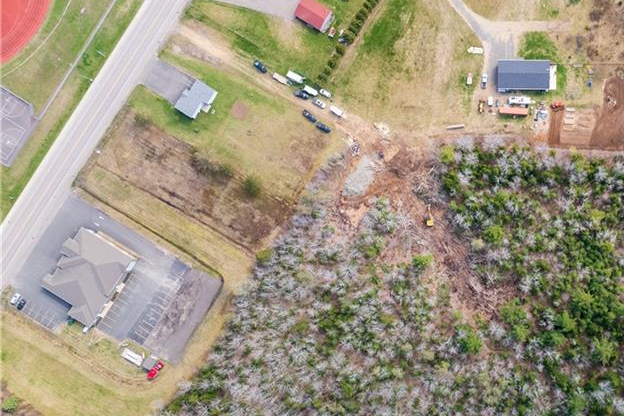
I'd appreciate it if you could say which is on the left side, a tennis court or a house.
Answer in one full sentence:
What appears on the left side is a house.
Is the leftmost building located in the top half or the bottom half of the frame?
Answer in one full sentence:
The leftmost building is in the bottom half of the image.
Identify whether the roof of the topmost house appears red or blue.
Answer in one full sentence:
The roof of the topmost house looks red in the image.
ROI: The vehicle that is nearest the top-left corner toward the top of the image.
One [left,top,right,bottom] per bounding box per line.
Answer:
[252,60,269,74]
